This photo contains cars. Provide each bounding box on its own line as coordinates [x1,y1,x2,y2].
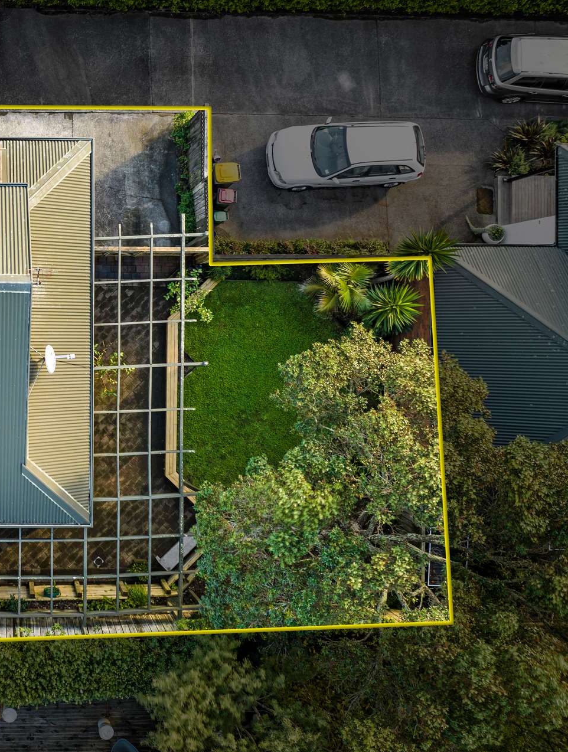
[264,113,428,192]
[475,30,568,105]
